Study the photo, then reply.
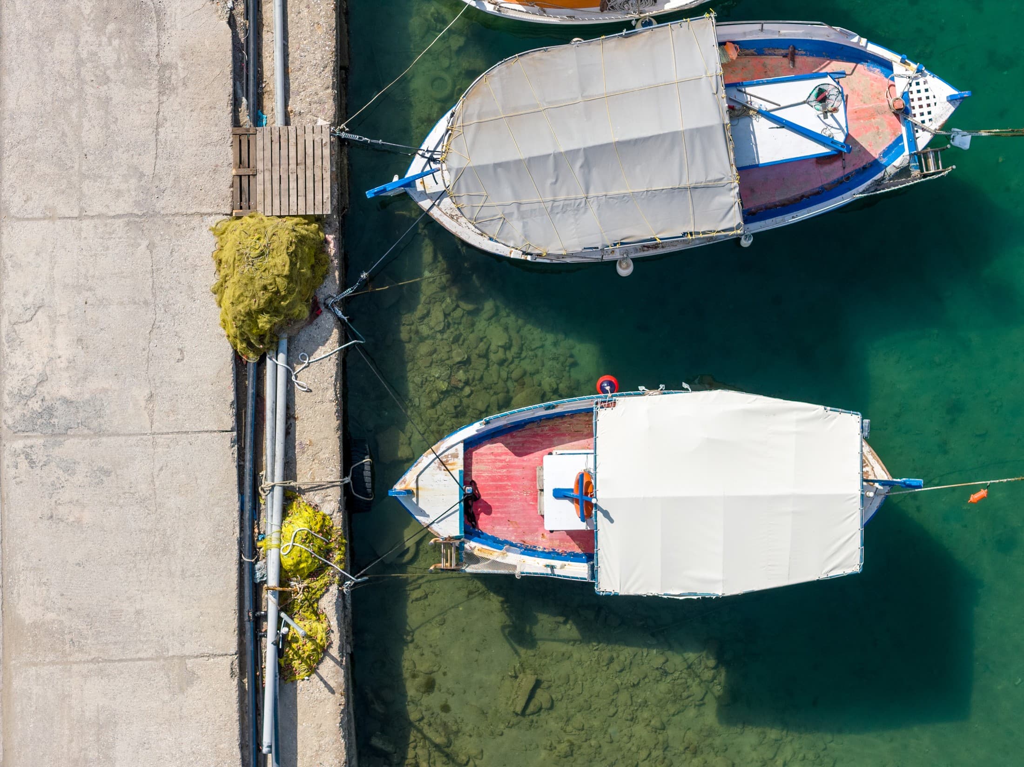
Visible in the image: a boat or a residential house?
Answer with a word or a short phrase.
boat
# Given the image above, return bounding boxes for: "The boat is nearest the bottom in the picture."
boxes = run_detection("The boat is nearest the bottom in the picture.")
[386,389,922,600]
